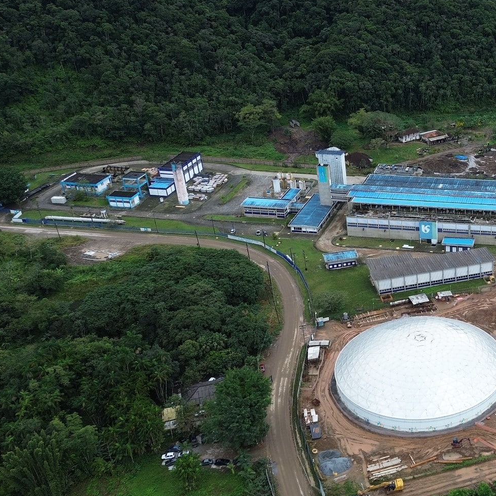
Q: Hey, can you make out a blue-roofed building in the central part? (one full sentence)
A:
Yes, in the central part there is a blue-roofed building.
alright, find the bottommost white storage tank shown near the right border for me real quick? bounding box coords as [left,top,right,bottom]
[334,314,496,430]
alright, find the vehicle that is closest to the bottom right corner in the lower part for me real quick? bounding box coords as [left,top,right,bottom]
[450,434,474,449]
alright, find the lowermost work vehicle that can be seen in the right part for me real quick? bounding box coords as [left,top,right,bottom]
[354,477,405,495]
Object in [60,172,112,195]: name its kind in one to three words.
building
